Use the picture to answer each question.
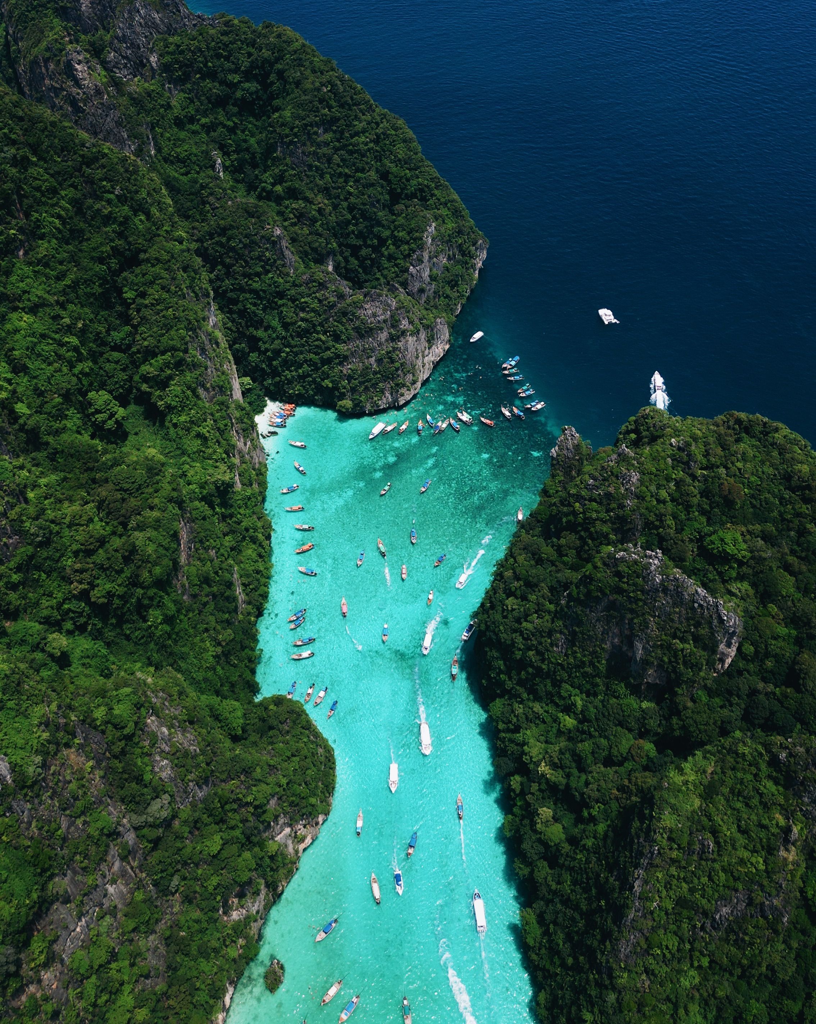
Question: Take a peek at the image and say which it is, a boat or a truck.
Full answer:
Looking from above, you can make out a boat.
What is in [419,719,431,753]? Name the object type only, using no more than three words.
boat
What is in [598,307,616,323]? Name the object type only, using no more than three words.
boat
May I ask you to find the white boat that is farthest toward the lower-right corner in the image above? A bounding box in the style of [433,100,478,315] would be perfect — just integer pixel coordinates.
[473,887,487,933]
